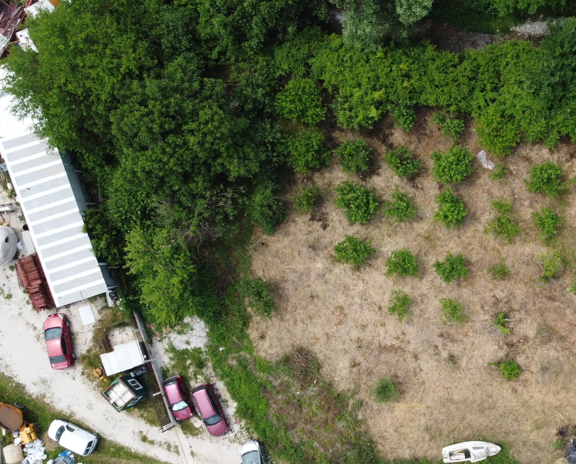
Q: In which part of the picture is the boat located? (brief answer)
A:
bottom right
